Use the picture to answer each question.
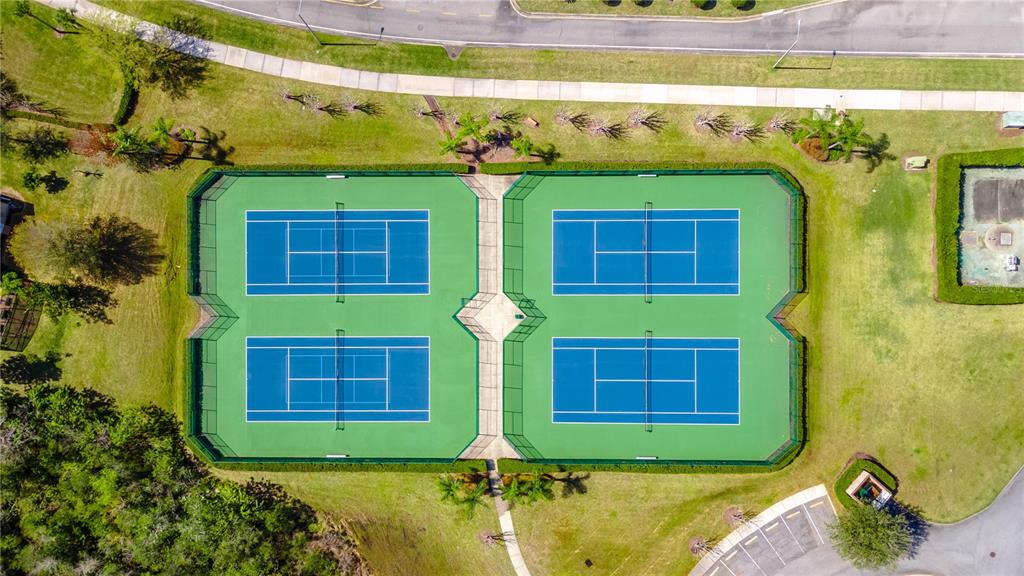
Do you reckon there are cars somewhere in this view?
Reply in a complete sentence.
No, there appears to be no car in this shot.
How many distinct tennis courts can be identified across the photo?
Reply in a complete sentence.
The picture shows 4 tennis courts.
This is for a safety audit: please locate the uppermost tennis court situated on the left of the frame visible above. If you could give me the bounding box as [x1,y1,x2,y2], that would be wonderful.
[206,175,477,316]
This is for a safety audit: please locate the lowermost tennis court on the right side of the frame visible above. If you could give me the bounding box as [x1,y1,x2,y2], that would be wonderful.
[505,316,789,460]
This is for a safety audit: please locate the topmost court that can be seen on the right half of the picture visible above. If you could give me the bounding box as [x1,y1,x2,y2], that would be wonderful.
[505,173,789,317]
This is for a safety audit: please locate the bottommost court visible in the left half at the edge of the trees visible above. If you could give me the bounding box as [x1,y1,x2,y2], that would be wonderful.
[206,316,478,458]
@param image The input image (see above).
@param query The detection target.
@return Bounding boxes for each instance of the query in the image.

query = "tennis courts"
[505,173,789,317]
[206,175,477,316]
[505,316,789,460]
[206,316,478,458]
